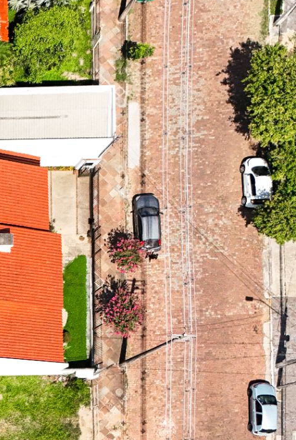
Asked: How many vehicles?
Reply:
3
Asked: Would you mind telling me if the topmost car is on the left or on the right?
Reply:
right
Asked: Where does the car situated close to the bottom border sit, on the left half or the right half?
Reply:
right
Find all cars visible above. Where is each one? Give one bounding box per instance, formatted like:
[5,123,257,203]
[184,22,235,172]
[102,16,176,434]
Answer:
[130,193,167,258]
[240,154,276,211]
[247,382,283,436]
